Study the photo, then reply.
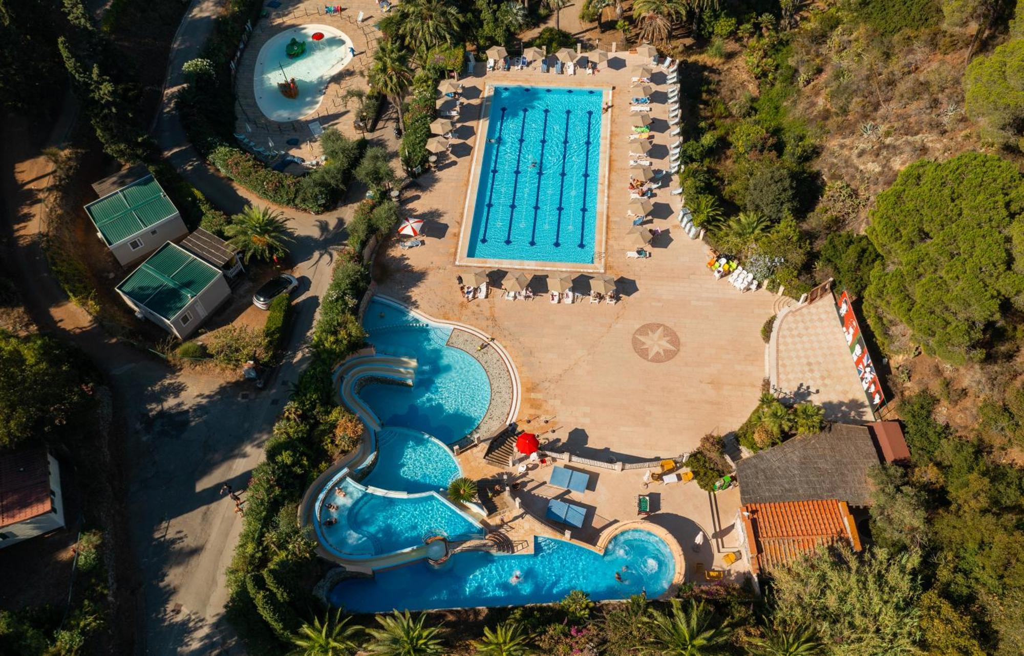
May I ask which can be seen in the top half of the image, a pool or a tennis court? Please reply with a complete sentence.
There is a pool in the top half of the image.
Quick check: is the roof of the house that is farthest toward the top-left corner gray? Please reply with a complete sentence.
No, the roof of the house that is farthest toward the top-left corner is actually green.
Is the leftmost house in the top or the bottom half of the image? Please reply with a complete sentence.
The bottom half of the photo is where the leftmost house is.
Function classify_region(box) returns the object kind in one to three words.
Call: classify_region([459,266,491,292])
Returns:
umbrella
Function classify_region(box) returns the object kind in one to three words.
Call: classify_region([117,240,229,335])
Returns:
house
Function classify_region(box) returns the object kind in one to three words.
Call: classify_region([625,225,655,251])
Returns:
umbrella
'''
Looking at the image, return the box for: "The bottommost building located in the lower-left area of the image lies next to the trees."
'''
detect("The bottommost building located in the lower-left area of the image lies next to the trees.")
[0,449,70,539]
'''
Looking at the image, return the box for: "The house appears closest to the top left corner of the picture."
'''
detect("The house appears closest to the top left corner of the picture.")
[84,173,186,262]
